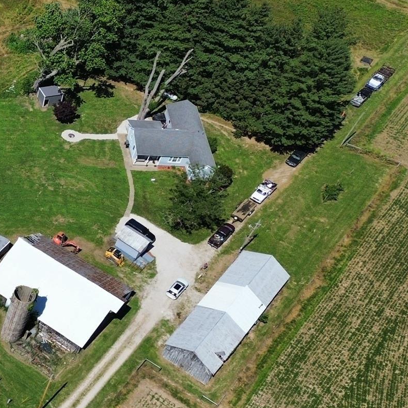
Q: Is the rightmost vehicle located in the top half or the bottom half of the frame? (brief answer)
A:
top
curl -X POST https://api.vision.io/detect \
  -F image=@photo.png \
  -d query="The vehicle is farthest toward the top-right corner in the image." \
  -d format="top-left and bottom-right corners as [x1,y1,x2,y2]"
[367,68,394,88]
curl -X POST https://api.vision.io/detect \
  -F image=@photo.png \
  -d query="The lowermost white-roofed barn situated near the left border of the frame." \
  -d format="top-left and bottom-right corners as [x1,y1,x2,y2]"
[0,234,138,354]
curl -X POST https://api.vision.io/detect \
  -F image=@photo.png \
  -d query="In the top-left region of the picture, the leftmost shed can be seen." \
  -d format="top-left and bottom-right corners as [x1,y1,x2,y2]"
[38,87,66,109]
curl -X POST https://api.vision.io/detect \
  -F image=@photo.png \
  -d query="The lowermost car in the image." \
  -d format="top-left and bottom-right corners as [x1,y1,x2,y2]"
[167,277,191,298]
